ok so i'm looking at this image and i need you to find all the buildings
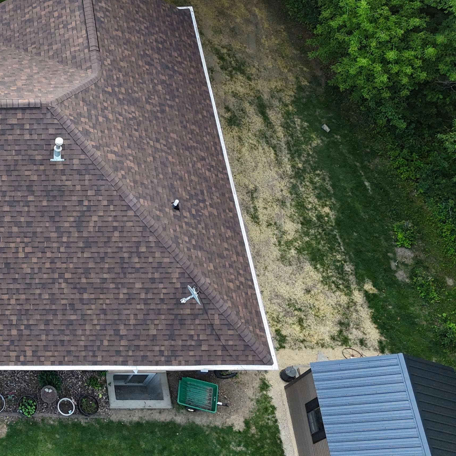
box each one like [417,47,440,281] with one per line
[0,0,278,378]
[284,354,456,456]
